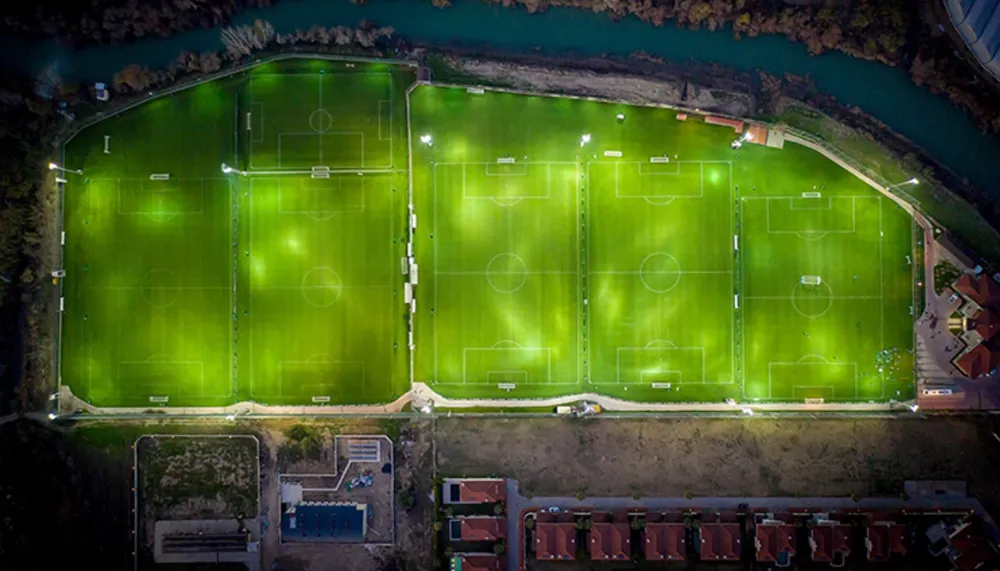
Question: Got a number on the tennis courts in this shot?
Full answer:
There are no tennis courts in the image.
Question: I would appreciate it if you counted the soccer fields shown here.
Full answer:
The count of soccer fields comes to 6.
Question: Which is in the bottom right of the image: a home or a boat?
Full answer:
The one visible in the bottom right of the image is a home.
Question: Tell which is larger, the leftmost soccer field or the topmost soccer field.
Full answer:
Of the two, the leftmost soccer field is larger and the topmost soccer field is the smaller one.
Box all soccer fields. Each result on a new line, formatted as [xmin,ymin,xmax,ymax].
[88,177,231,397]
[434,162,580,385]
[740,195,884,399]
[249,72,392,169]
[587,160,733,385]
[249,177,393,398]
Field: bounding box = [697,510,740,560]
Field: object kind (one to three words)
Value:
house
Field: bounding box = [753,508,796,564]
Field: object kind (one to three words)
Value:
house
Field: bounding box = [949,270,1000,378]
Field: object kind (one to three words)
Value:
building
